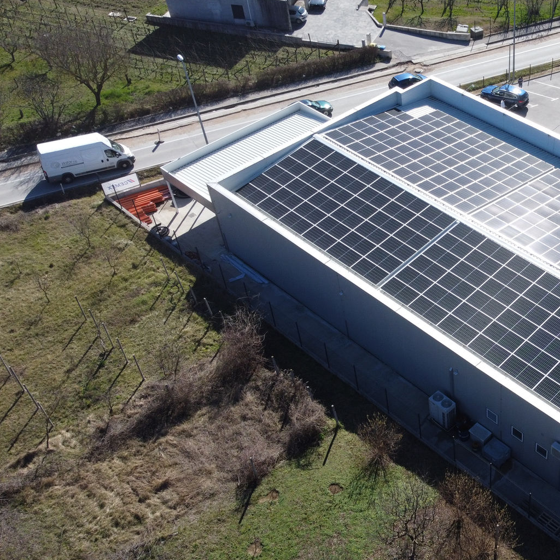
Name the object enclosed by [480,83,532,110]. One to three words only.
car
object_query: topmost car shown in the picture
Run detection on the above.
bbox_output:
[289,3,312,25]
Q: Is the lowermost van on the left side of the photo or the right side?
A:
left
